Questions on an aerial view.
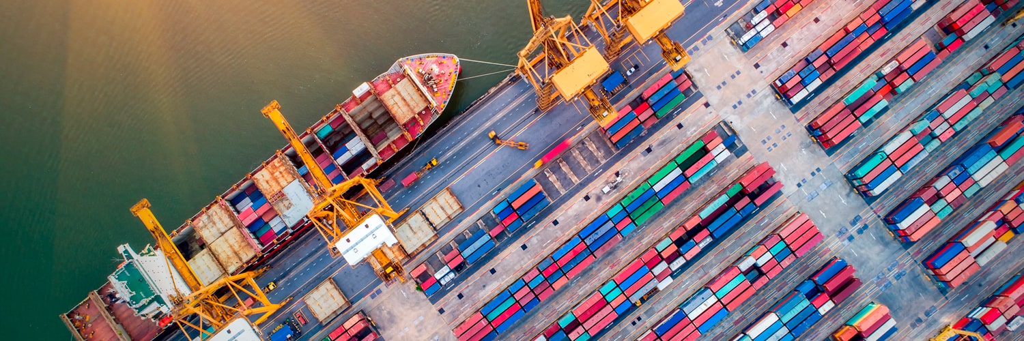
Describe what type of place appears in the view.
port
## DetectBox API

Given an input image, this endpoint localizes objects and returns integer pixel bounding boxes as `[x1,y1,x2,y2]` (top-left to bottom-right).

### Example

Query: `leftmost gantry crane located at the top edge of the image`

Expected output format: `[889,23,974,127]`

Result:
[513,0,622,126]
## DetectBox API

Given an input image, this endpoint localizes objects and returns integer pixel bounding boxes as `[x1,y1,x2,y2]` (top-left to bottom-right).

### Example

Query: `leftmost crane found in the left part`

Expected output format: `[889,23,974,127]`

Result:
[124,208,299,341]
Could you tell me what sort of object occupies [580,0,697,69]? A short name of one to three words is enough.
container crane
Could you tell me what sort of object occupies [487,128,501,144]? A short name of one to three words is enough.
vehicle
